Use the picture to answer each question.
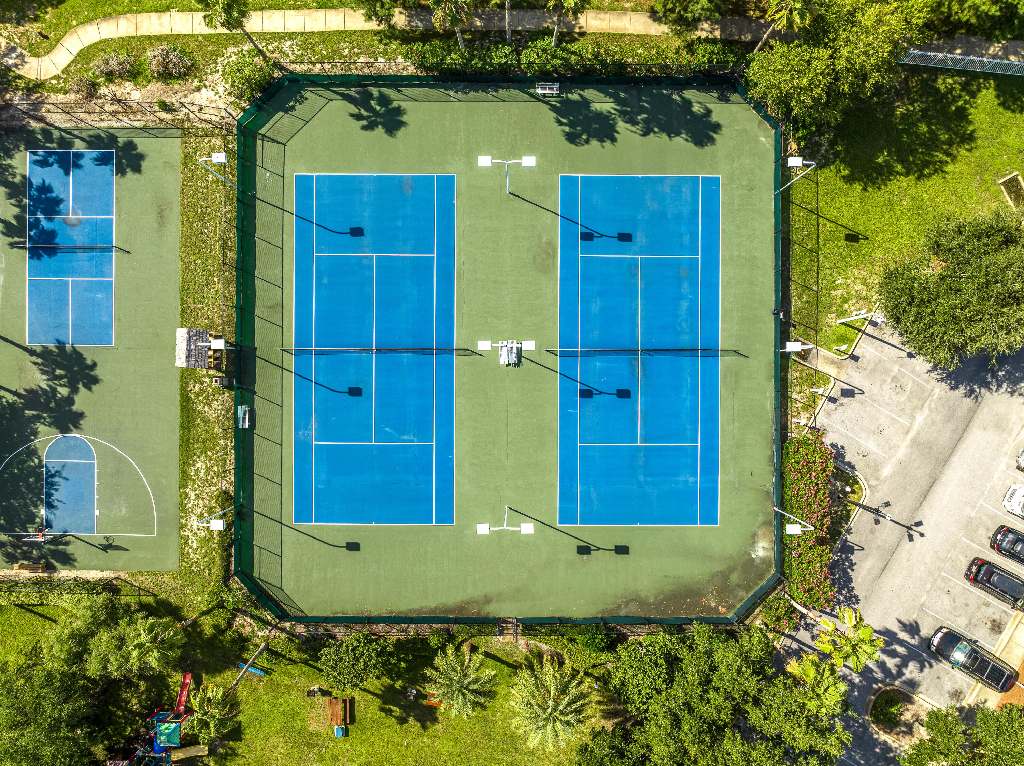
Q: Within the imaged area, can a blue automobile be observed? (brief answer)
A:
No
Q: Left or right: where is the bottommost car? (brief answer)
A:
right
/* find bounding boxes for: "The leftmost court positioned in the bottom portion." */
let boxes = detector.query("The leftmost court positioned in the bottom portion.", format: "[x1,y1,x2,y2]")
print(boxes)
[0,435,156,536]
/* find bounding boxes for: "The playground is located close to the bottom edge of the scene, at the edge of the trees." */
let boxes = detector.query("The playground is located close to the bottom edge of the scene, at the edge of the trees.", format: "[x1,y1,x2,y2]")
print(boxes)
[105,672,210,766]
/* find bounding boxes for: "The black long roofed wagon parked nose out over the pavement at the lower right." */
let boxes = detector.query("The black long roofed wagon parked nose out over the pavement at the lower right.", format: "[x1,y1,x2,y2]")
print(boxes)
[926,629,1012,693]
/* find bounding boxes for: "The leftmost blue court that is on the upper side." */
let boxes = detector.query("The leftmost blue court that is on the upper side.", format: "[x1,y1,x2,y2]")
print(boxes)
[26,150,115,346]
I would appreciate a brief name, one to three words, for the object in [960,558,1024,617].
car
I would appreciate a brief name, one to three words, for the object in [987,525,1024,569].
car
